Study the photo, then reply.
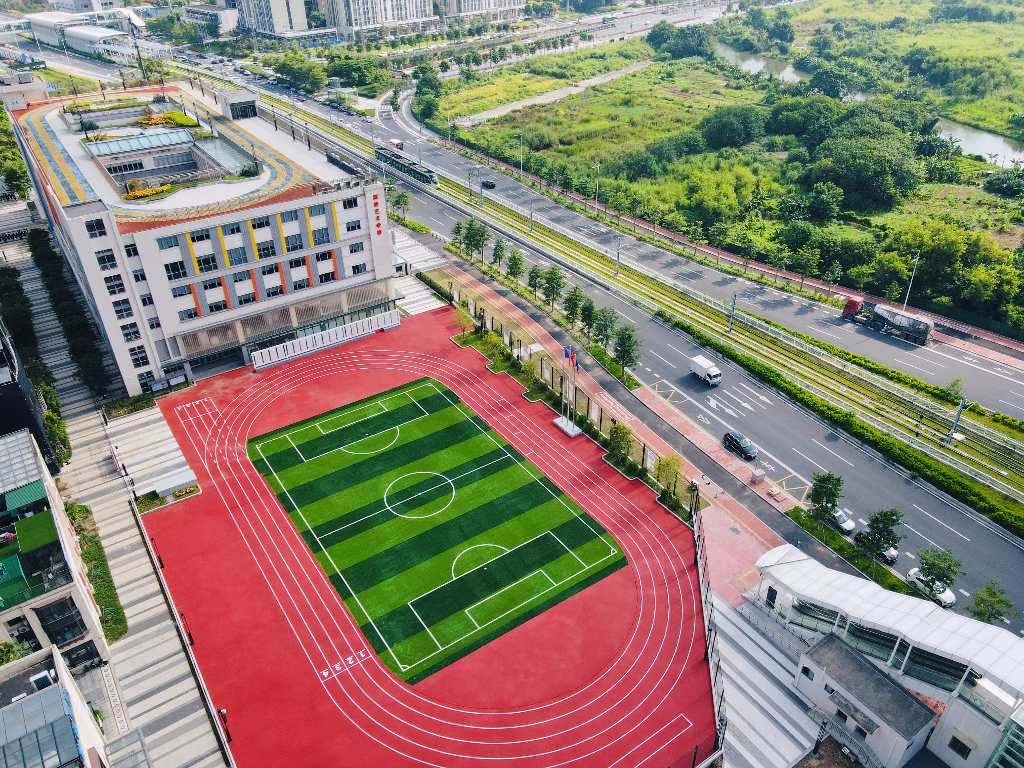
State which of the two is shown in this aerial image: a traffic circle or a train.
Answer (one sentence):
This aerial view contains a train.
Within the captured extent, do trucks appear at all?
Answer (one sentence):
Yes, the photo shows a truck.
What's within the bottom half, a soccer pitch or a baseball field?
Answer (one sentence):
There is a soccer pitch within the bottom half.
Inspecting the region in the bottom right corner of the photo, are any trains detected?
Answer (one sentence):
No, no train is visible in the bottom right corner of the photo.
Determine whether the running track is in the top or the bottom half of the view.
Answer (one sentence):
It is in the bottom half that the running track appears.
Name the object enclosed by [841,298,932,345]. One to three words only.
truck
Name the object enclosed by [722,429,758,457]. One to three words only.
car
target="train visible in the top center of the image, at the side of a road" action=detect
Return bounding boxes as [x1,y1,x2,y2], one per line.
[369,145,439,188]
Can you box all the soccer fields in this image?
[248,377,634,689]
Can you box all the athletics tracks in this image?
[140,304,720,768]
